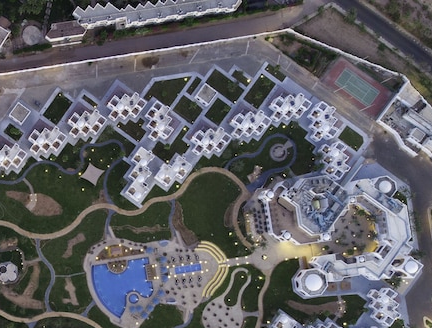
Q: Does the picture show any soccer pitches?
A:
No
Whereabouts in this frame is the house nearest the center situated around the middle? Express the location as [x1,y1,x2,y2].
[190,127,230,155]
